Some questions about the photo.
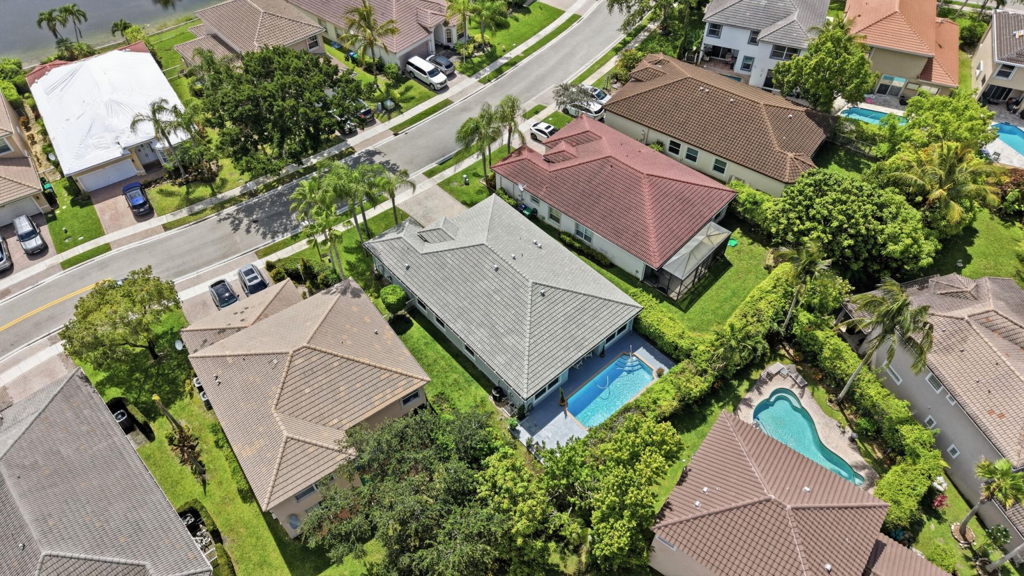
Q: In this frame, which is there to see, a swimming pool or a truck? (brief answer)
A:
swimming pool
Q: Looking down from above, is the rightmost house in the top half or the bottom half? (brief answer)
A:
top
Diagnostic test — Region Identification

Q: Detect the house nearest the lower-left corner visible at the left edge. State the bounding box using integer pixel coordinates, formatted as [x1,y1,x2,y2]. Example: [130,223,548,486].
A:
[0,366,211,576]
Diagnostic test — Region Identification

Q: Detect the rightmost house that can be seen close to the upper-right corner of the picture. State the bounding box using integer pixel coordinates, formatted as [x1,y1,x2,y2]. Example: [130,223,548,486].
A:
[972,7,1024,117]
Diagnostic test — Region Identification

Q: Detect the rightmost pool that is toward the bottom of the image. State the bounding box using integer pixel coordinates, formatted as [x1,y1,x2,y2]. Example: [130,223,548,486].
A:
[753,386,866,486]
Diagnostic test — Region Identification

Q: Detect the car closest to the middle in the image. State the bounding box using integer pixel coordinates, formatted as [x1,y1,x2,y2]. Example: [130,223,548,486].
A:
[521,121,557,143]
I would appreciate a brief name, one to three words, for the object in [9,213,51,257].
car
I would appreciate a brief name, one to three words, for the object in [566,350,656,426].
swimming pool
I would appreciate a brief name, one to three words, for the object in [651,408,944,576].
house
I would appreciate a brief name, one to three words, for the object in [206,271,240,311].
car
